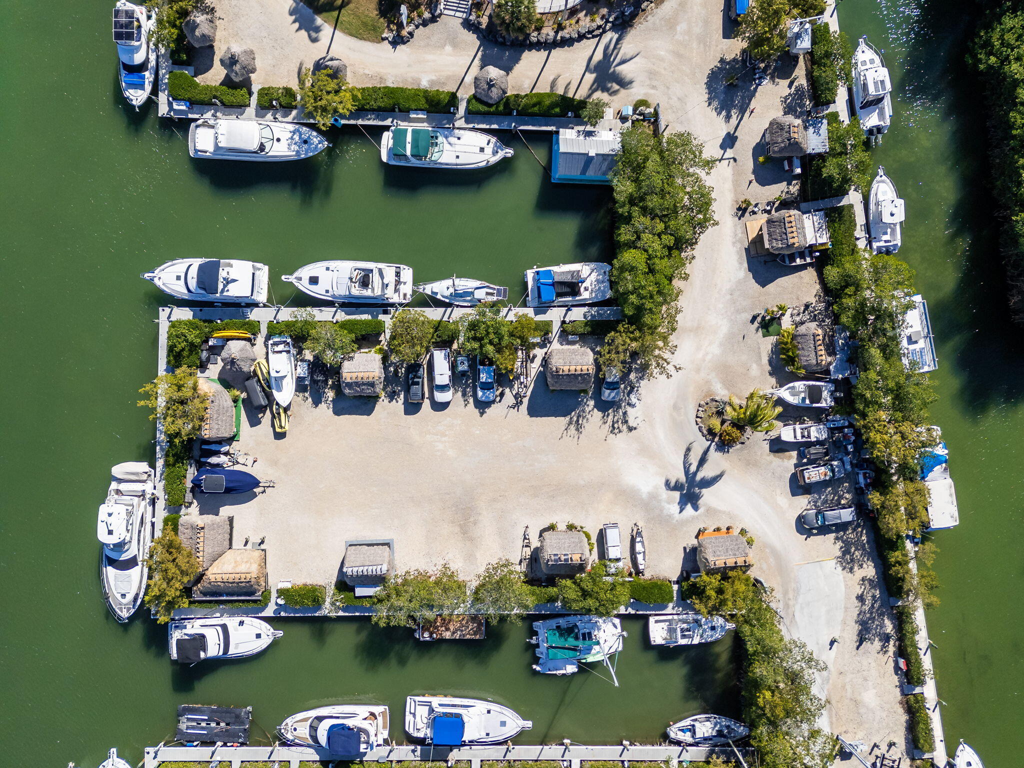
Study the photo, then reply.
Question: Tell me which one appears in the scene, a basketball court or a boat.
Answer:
boat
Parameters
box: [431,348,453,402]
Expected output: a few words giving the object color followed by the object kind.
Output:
white truck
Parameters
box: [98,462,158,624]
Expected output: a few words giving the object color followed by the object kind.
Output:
white boat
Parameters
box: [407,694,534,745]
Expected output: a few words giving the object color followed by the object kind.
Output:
white boat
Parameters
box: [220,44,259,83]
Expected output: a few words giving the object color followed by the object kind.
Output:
gray umbrella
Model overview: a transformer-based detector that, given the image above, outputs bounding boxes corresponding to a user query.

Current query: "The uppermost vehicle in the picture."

[728,0,752,22]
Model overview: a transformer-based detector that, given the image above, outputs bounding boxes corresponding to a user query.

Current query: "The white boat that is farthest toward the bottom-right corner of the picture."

[947,736,980,768]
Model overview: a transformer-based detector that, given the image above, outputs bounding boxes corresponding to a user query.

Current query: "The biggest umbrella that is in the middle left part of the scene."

[222,336,258,377]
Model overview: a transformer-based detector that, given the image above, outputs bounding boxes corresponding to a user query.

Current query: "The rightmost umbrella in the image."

[471,67,510,105]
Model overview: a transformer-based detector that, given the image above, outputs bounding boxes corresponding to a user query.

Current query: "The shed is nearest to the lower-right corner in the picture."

[694,532,754,575]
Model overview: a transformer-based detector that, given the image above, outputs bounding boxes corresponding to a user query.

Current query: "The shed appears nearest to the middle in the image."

[545,346,597,392]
